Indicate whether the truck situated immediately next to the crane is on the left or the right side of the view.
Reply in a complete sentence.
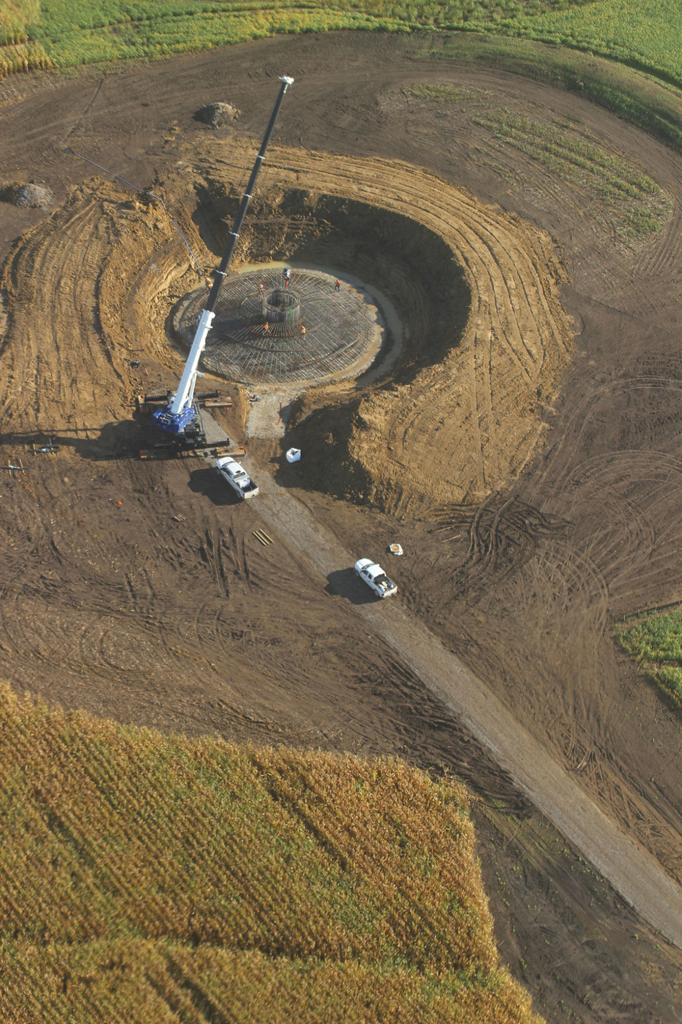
You can find the truck situated immediately next to the crane on the left side of the picture.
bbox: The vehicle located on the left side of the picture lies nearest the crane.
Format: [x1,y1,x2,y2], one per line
[213,455,262,501]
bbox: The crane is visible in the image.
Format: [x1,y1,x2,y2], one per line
[138,73,294,458]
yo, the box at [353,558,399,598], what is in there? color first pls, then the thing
white truck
